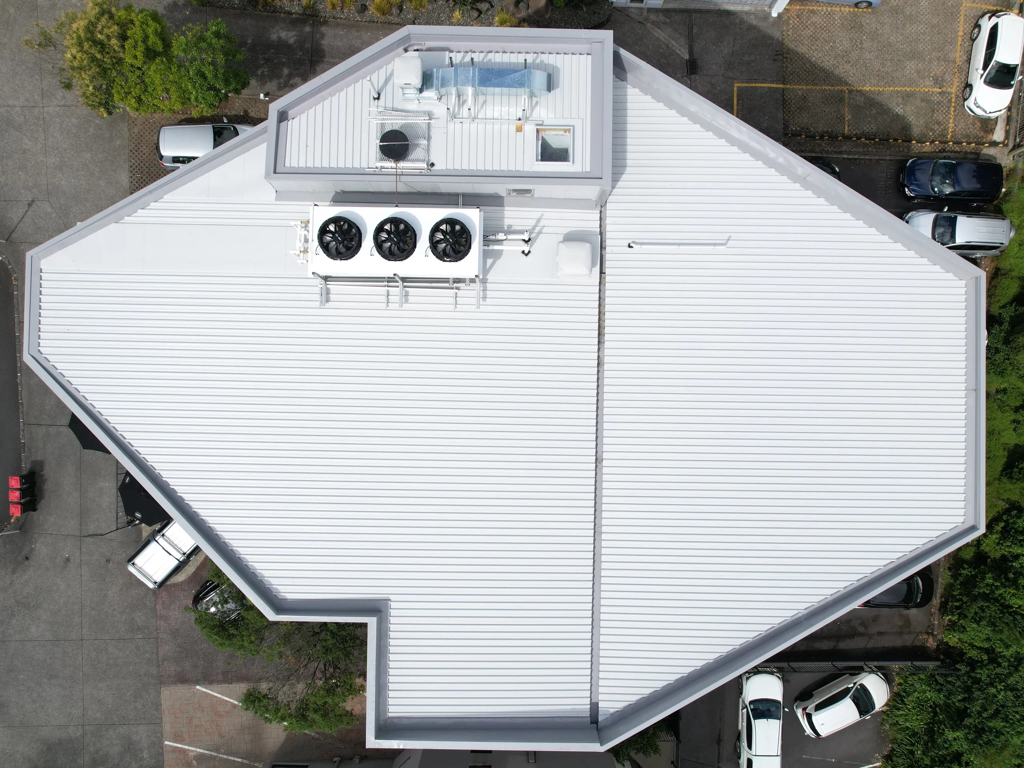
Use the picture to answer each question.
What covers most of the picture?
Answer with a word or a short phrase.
buildings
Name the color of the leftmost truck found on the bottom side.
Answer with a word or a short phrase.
white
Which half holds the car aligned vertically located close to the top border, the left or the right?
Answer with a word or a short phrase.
right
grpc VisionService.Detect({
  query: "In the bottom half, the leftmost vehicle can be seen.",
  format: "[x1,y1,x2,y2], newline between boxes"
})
[119,517,203,592]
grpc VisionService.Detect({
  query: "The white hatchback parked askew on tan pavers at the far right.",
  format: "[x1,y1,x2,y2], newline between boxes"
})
[963,13,1024,122]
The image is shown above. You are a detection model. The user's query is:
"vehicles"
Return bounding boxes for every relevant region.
[896,150,1015,207]
[119,517,203,592]
[735,671,793,768]
[154,119,252,171]
[963,13,1024,122]
[854,567,934,615]
[901,201,1023,258]
[794,670,894,742]
[808,156,843,185]
[789,0,879,11]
